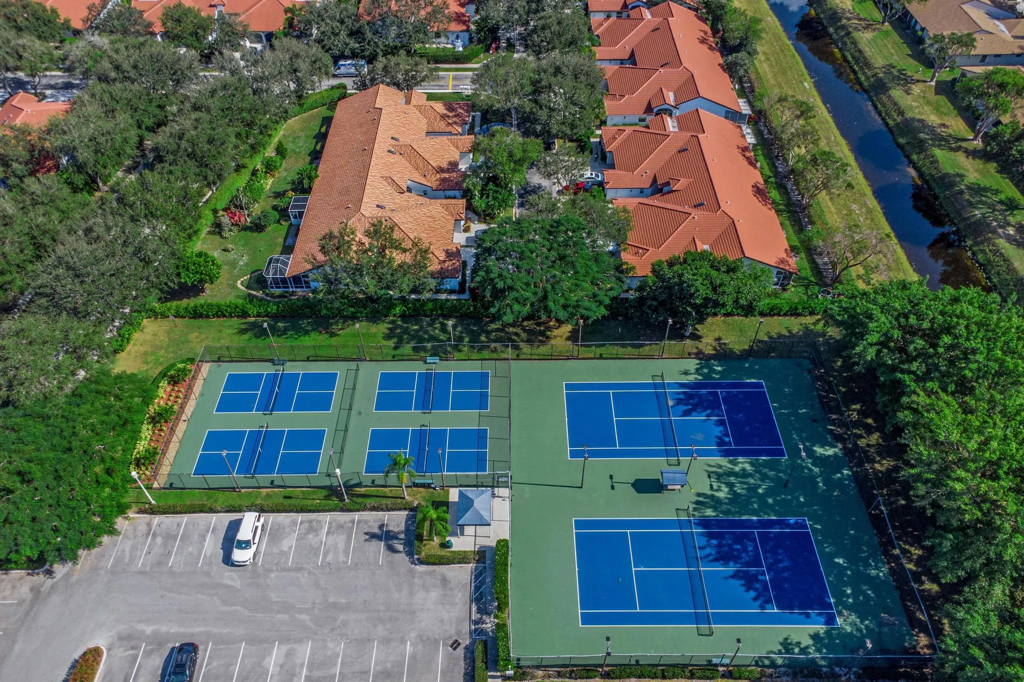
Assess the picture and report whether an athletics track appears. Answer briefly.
No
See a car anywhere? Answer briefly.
Yes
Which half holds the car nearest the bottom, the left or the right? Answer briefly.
left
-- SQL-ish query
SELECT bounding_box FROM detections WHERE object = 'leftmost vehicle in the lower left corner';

[161,640,197,682]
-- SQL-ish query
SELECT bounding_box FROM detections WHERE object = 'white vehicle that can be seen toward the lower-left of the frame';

[231,514,262,563]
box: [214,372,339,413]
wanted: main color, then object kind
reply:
blue sports court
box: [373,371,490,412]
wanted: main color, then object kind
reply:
blue sports court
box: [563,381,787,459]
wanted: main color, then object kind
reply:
blue tennis court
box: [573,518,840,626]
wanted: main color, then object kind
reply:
blue tennis court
